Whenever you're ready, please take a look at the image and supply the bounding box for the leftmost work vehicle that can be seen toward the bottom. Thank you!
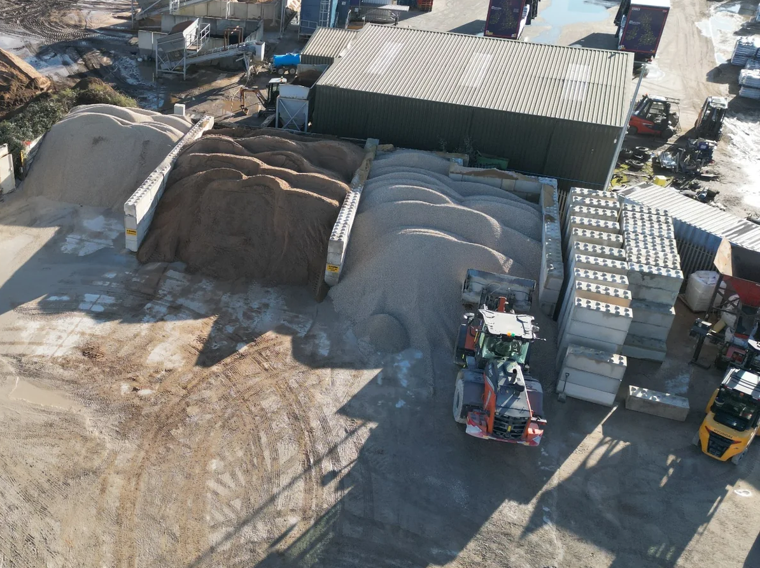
[462,272,556,448]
